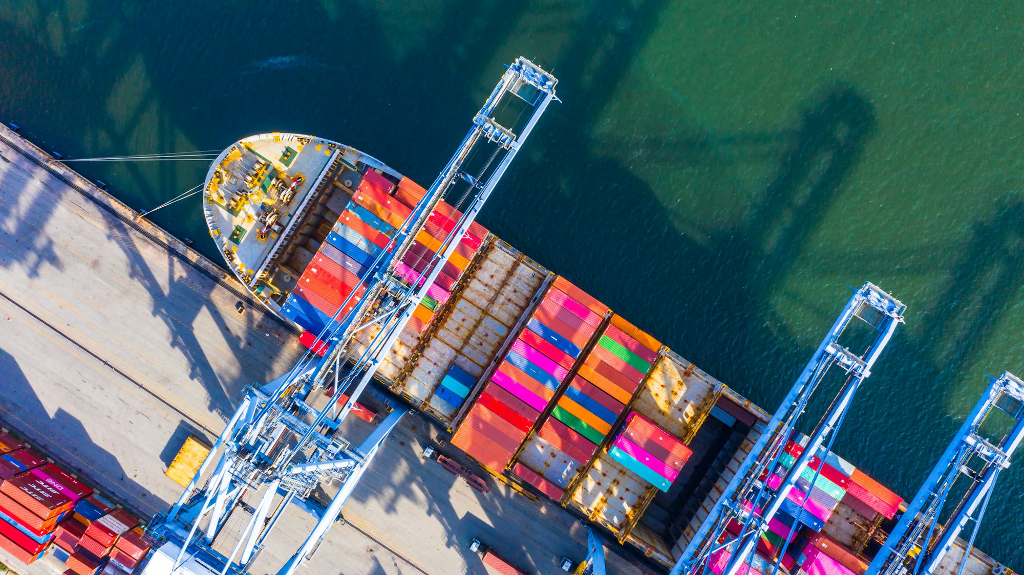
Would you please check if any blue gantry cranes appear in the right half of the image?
Yes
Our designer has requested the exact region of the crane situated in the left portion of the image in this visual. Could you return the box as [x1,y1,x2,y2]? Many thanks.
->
[121,46,565,575]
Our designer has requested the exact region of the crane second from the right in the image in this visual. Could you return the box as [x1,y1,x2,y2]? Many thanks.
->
[564,278,916,575]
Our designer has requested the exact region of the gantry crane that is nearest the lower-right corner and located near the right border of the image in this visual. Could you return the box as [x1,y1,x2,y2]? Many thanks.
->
[866,370,1024,575]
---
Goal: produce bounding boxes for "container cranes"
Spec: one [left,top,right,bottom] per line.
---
[564,278,916,575]
[121,46,565,575]
[866,370,1024,575]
